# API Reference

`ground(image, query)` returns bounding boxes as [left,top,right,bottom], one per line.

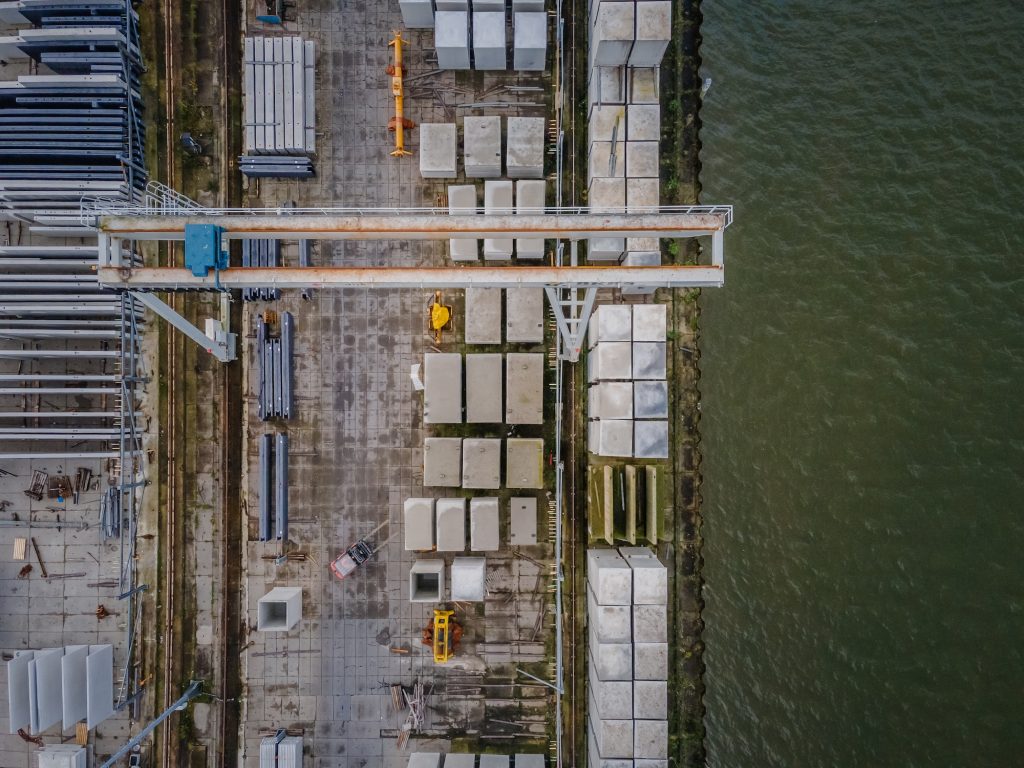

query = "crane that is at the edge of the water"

[76,179,734,362]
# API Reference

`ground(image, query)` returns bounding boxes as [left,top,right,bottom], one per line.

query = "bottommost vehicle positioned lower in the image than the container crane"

[328,518,399,584]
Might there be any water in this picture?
Yes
